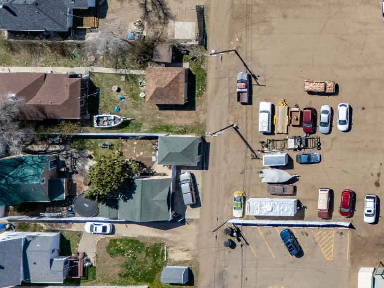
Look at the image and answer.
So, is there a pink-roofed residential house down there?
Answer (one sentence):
No, the photo shows no pink-roofed residential house.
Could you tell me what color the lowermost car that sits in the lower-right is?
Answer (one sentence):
From above, the lowermost car that sits in the lower-right appears blue.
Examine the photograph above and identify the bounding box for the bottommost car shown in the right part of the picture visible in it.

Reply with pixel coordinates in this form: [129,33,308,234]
[279,227,303,257]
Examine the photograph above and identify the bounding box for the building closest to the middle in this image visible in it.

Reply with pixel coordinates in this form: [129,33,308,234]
[158,135,204,166]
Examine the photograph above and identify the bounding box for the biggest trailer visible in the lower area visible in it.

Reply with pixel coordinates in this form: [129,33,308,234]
[247,194,310,215]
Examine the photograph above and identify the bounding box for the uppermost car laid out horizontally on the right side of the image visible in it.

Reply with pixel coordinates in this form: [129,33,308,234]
[305,80,335,93]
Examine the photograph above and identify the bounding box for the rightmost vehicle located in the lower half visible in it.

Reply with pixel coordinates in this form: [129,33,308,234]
[364,193,378,222]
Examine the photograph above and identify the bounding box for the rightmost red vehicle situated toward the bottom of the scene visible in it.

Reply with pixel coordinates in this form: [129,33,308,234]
[342,188,355,217]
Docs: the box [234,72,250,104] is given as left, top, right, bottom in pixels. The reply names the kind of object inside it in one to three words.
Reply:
vehicle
